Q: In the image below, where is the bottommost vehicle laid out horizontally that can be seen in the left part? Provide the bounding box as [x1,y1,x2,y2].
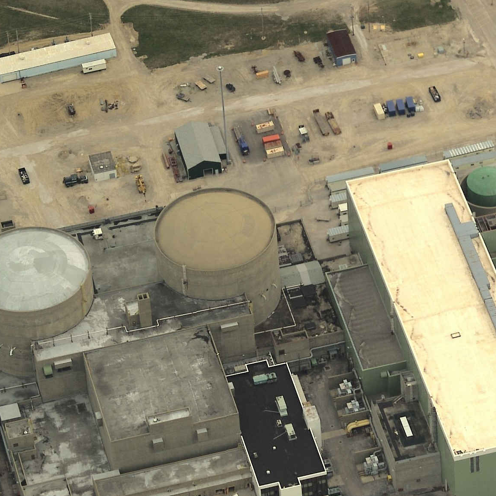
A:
[63,171,88,184]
